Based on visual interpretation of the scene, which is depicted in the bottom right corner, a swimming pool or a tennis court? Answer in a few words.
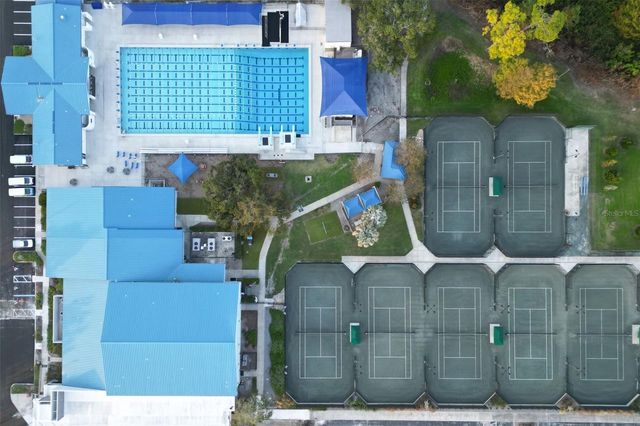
tennis court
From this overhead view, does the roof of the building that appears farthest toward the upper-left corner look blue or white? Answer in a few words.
blue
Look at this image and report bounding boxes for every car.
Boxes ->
[9,154,32,164]
[14,239,35,248]
[8,176,33,186]
[8,187,34,197]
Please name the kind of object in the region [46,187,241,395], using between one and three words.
building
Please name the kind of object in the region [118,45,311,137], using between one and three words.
swimming pool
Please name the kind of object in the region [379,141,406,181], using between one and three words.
building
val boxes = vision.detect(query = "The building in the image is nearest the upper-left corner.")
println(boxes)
[1,0,94,166]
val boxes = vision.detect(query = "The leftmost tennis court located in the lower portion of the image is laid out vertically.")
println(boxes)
[286,265,355,404]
